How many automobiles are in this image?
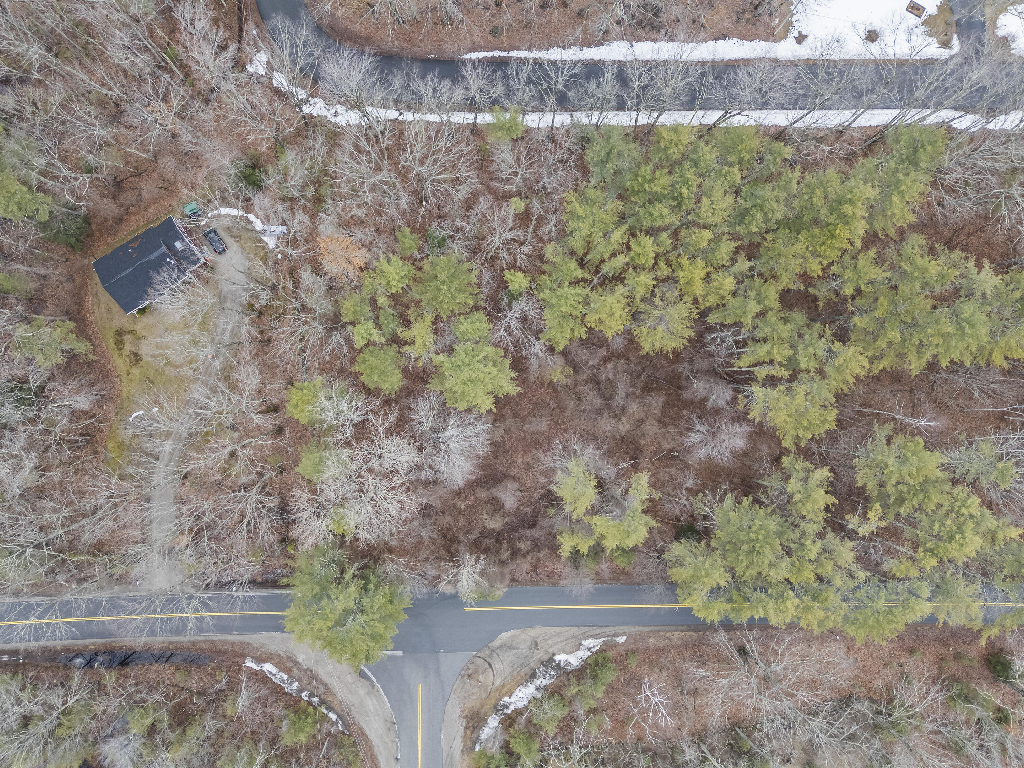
1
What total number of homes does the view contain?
1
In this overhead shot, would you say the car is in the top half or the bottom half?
top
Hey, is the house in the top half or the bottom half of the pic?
top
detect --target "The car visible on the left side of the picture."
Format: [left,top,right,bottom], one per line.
[205,227,227,256]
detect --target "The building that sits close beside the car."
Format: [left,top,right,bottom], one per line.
[92,215,211,322]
